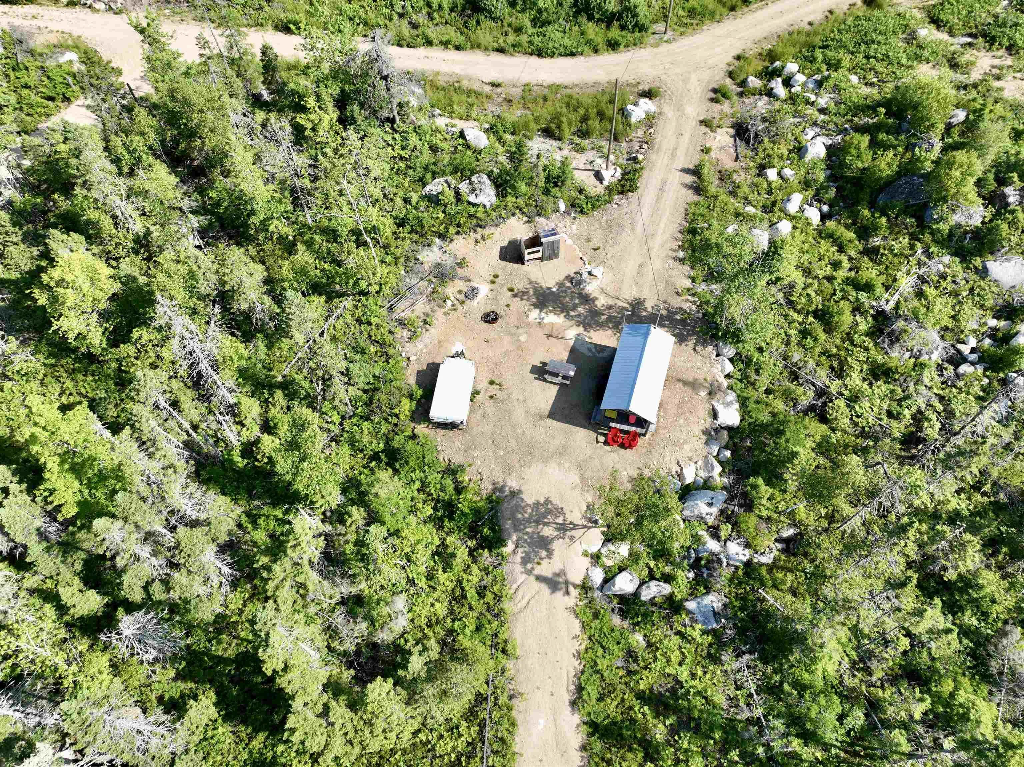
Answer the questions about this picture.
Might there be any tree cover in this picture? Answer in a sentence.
Yes, tree cover can be seen from above here.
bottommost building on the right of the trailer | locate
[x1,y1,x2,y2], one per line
[590,324,676,439]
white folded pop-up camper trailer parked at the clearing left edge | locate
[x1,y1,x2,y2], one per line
[428,349,478,431]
